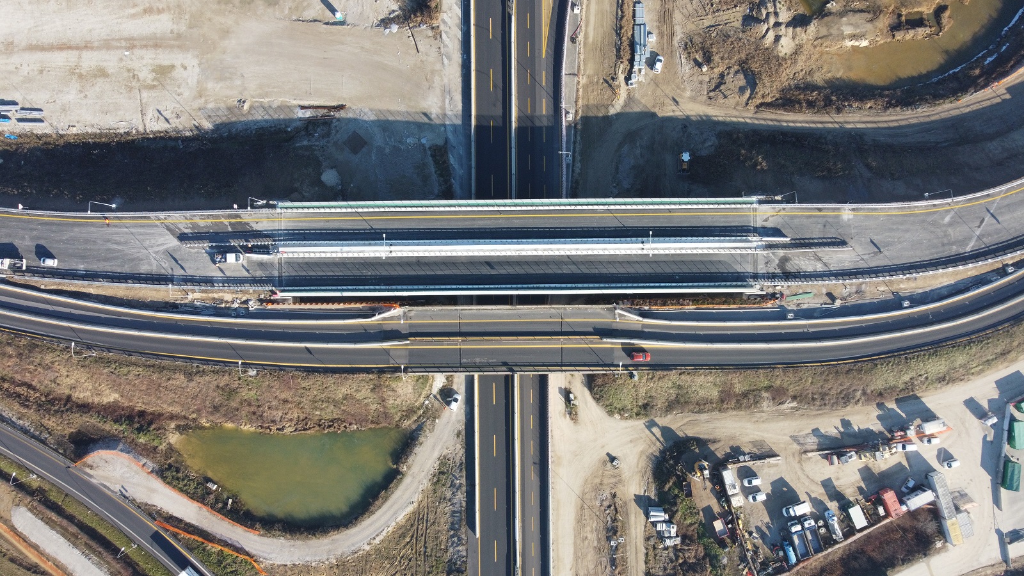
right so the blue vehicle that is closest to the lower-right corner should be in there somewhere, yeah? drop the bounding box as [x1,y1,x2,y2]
[900,475,915,494]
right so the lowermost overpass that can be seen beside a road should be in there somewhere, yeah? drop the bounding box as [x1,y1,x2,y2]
[404,305,618,374]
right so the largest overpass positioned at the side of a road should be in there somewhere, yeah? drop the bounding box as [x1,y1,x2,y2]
[272,196,762,295]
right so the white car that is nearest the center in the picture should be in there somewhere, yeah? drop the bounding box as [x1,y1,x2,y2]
[447,393,460,412]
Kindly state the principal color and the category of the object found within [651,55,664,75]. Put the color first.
white vehicle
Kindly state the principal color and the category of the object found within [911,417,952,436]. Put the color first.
white vehicle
